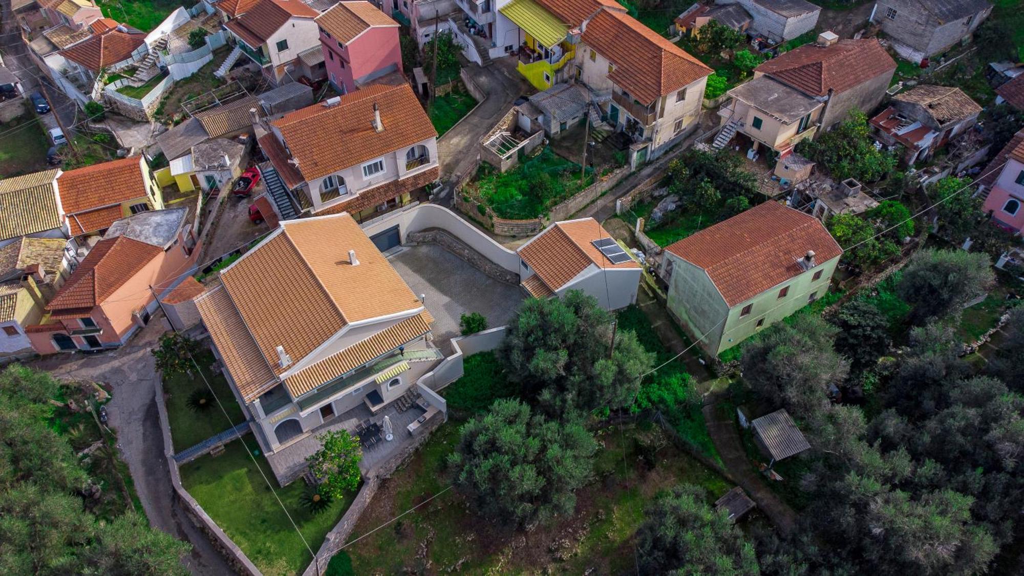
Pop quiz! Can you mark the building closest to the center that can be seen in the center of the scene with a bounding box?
[516,216,642,324]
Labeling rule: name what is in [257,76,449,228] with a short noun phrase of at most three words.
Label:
house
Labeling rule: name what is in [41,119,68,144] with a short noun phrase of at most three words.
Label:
car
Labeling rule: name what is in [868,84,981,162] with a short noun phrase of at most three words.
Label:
barn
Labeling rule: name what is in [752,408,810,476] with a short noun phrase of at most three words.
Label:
shed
